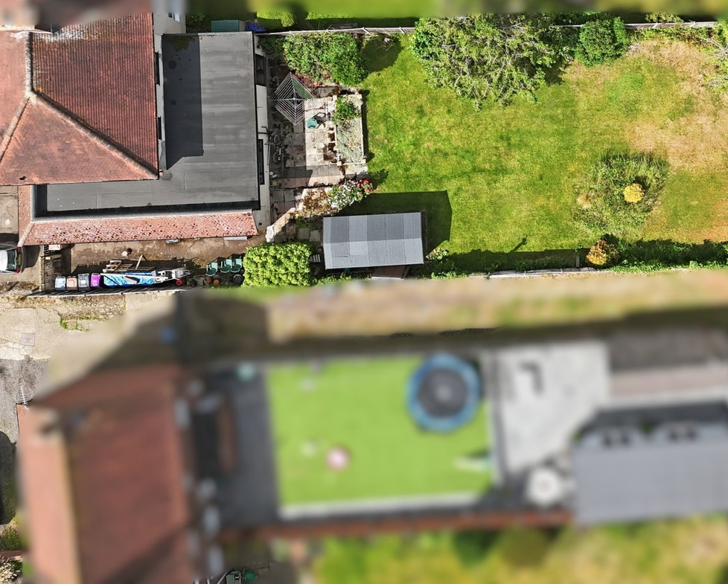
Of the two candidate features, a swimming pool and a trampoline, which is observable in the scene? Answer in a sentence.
Looking from above, you can make out a trampoline.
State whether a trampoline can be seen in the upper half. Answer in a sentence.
No, there's no trampoline to be seen in the upper half.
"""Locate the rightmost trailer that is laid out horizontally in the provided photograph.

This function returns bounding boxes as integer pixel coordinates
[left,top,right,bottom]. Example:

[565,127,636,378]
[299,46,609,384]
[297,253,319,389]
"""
[100,263,194,290]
